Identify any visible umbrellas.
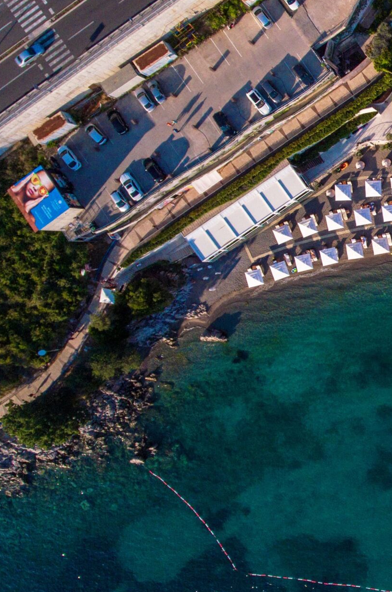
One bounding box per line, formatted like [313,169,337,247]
[269,259,292,282]
[325,211,347,232]
[345,240,366,260]
[319,245,341,266]
[335,181,355,202]
[299,217,319,236]
[354,206,373,224]
[245,267,265,288]
[294,251,316,273]
[363,177,384,197]
[102,289,115,303]
[271,222,294,245]
[381,204,392,223]
[370,235,391,255]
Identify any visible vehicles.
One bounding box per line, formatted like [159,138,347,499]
[210,107,234,136]
[81,121,105,147]
[56,143,80,172]
[118,172,142,201]
[289,58,313,88]
[14,42,43,66]
[131,86,154,113]
[104,107,128,136]
[141,155,165,184]
[283,0,300,12]
[258,76,282,105]
[143,78,166,105]
[245,86,269,116]
[250,4,272,31]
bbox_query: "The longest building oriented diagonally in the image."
[183,165,318,269]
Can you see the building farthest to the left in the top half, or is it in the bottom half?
top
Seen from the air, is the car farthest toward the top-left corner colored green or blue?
blue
